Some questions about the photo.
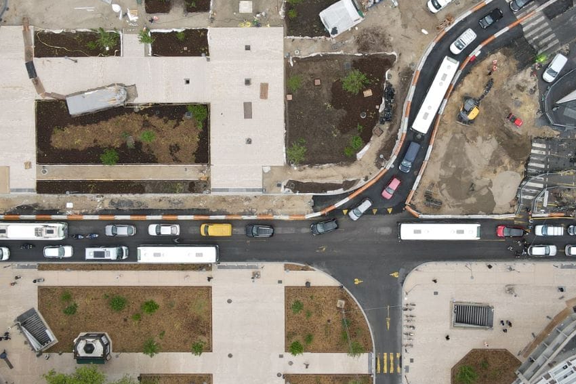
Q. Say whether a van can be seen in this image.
Yes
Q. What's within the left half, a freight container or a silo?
freight container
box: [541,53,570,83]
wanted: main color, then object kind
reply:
white van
